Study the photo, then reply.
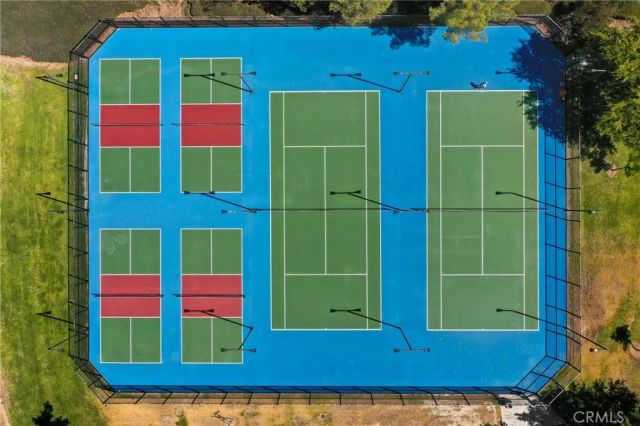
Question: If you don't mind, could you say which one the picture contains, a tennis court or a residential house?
tennis court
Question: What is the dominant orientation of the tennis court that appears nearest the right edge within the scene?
vertically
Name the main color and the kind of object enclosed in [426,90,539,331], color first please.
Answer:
green tennis court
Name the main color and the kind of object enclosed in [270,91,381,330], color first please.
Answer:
green tennis court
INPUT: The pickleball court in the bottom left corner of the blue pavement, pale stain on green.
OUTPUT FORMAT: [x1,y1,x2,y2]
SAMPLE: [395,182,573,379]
[100,229,161,363]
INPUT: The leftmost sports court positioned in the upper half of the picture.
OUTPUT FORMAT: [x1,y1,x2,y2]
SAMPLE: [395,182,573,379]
[99,58,161,193]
